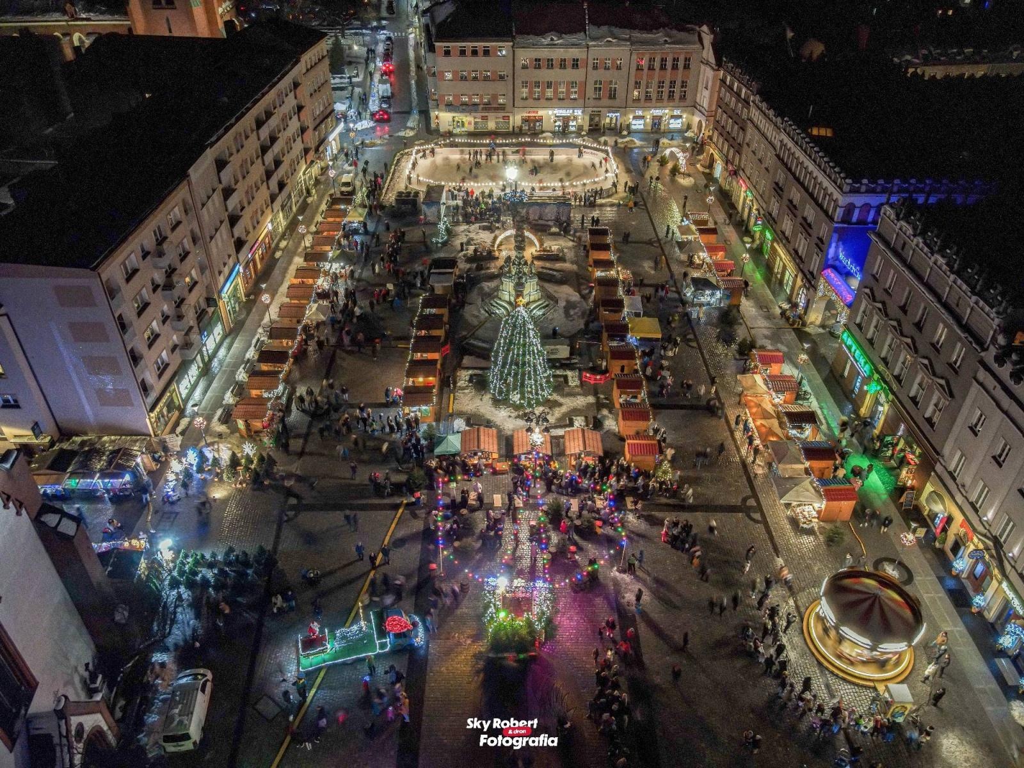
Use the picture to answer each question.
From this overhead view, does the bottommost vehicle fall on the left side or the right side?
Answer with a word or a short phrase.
left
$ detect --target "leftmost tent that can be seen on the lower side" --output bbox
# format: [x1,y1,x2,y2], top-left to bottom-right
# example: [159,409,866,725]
[102,532,170,588]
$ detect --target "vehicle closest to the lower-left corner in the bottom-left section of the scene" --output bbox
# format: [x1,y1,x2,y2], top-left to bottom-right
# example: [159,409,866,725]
[161,661,218,744]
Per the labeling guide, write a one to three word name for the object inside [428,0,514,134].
house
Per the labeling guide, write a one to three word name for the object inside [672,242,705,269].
tent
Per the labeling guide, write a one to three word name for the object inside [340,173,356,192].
vehicle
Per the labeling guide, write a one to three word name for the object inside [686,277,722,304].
tent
